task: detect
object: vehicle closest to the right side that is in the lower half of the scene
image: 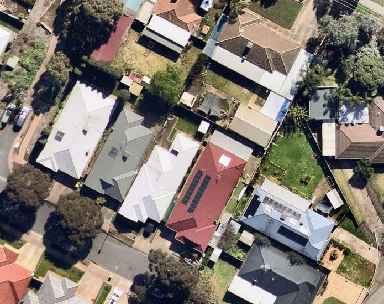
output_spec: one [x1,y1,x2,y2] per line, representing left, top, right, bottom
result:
[142,219,156,240]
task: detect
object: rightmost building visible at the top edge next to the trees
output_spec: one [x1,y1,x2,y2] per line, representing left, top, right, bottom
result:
[204,7,314,100]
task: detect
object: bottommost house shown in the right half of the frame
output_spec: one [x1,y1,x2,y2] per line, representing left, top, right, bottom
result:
[229,240,326,304]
